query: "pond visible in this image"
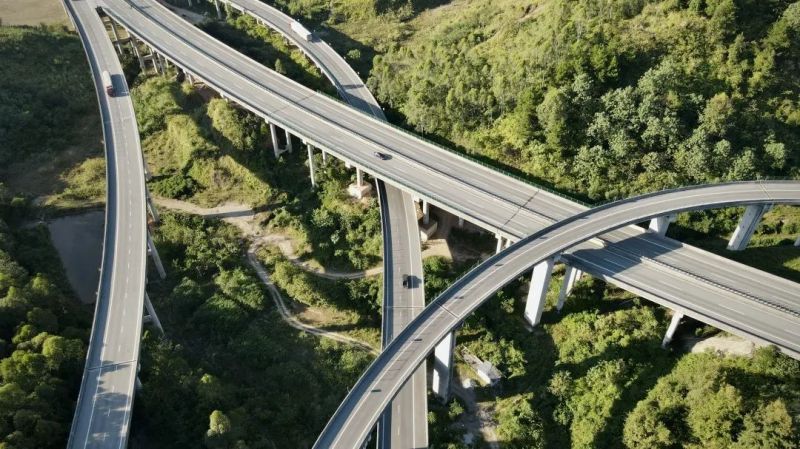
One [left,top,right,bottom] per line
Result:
[53,211,105,295]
